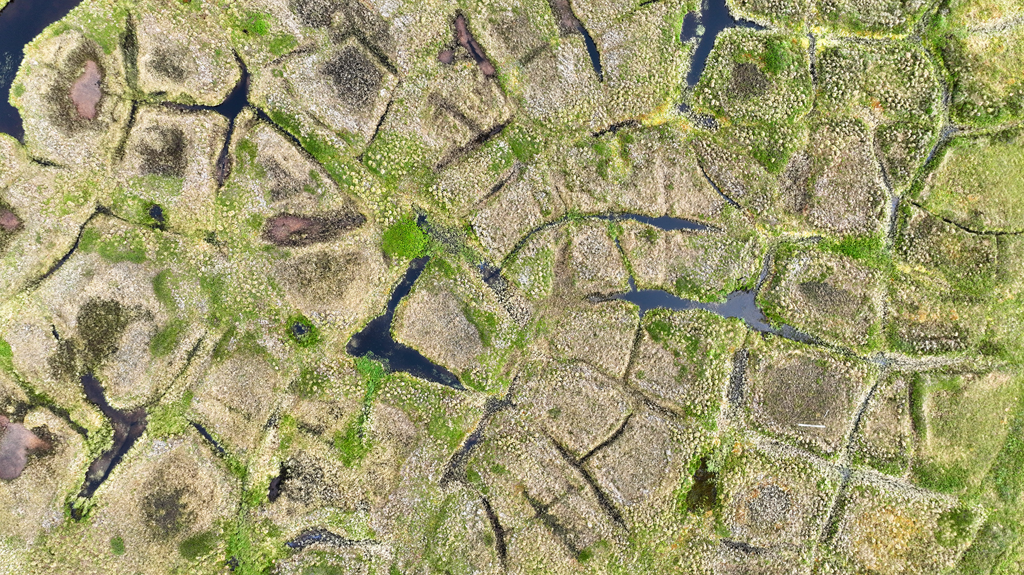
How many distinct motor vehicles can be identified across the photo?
none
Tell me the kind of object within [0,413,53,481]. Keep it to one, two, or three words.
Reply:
pond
